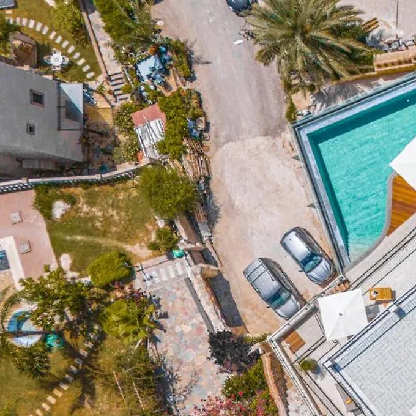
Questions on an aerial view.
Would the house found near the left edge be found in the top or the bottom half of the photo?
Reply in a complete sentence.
You can find the house found near the left edge in the top half.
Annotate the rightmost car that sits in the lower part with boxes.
[281,223,335,288]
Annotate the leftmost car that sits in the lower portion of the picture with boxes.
[244,251,303,323]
